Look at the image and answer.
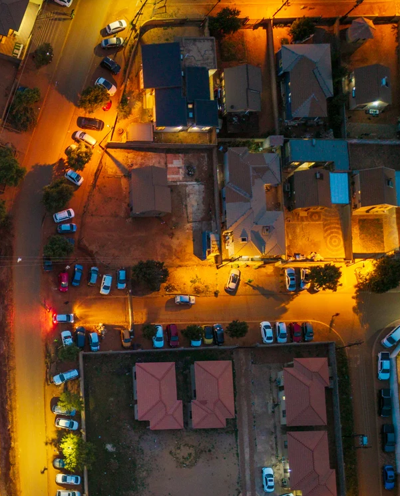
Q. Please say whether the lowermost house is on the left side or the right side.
right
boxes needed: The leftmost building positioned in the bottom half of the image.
[133,363,184,429]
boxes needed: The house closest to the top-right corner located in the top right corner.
[347,63,392,109]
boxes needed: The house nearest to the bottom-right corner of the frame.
[281,430,337,496]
